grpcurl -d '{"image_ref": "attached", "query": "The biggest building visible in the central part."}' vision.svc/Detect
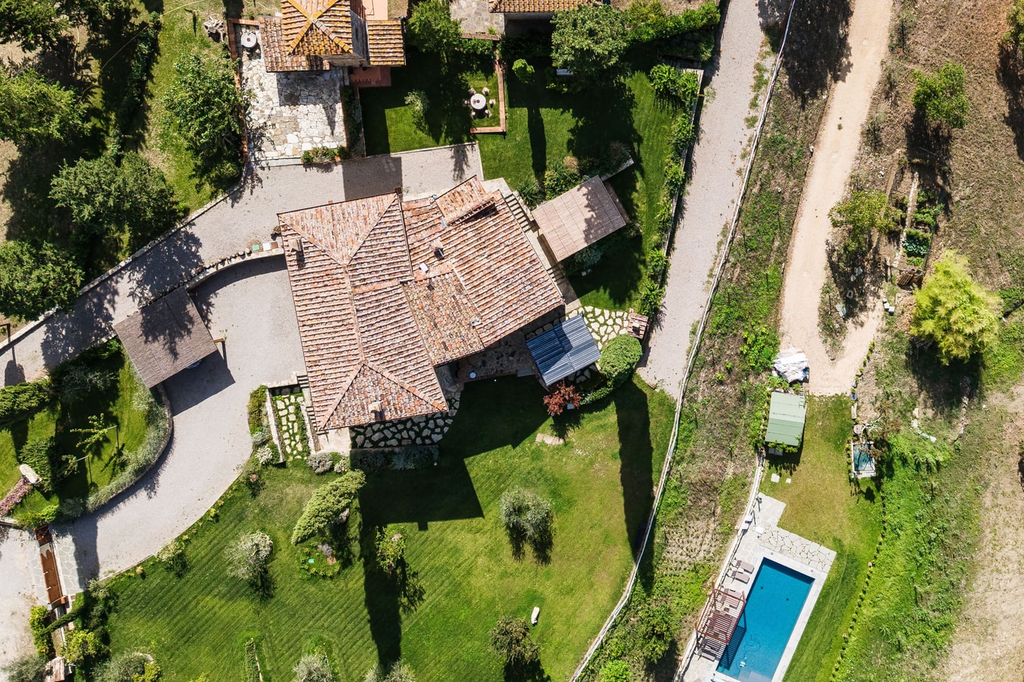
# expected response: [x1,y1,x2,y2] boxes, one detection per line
[275,175,566,432]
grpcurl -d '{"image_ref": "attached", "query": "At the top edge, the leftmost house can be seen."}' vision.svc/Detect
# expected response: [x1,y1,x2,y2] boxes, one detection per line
[258,0,409,73]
